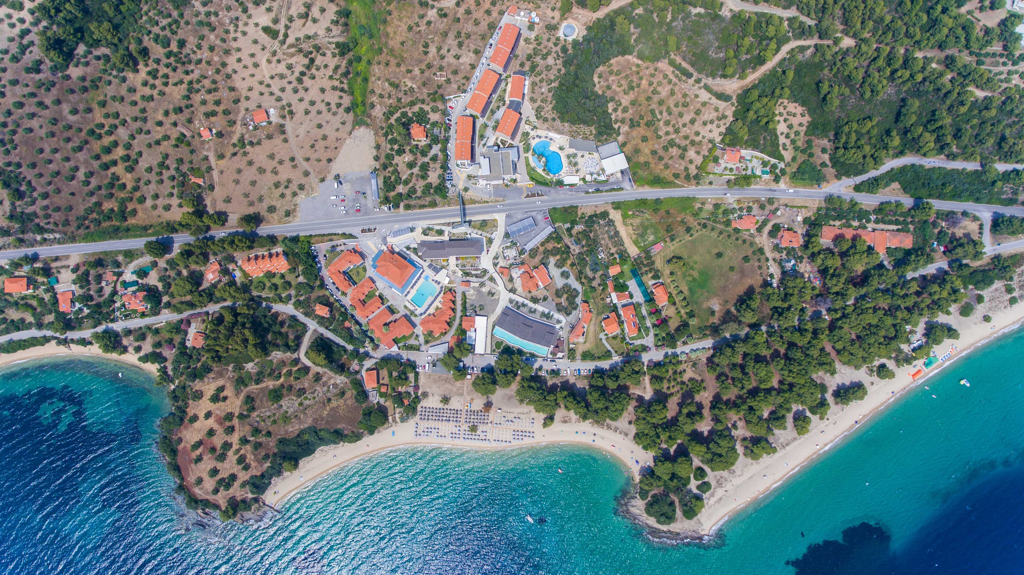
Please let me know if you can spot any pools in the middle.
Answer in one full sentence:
Yes, a pool appears in the middle.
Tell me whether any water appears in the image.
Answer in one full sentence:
Yes, the picture does contain water.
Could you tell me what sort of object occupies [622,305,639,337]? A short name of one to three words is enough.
house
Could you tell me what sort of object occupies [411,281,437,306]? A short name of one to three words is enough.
swimming pool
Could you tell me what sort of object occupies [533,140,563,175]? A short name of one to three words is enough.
swimming pool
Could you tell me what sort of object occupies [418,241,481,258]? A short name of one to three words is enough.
building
